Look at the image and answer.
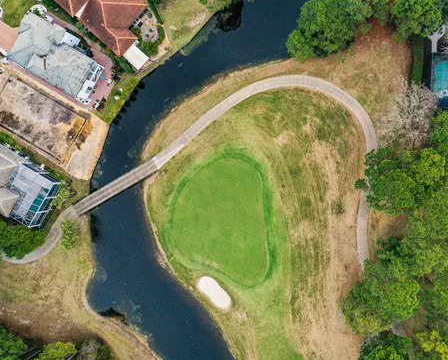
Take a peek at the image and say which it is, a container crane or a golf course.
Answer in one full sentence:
I can see a golf course in this picture.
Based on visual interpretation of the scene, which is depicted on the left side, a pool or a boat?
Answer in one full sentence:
What appears on the left side is a pool.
